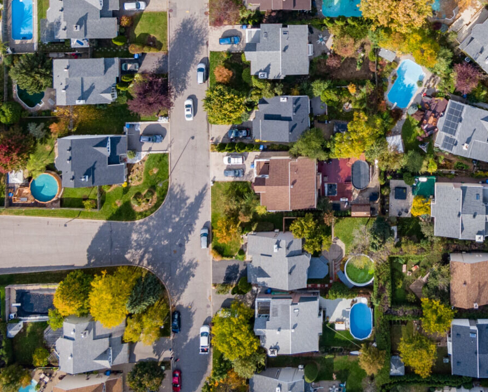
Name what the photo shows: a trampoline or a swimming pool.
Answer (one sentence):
This aerial view contains a swimming pool.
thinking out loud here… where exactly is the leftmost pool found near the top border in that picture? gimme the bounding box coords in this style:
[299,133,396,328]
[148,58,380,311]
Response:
[9,0,35,41]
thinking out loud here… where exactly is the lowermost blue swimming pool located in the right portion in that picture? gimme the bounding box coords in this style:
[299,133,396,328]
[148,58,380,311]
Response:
[348,300,374,342]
